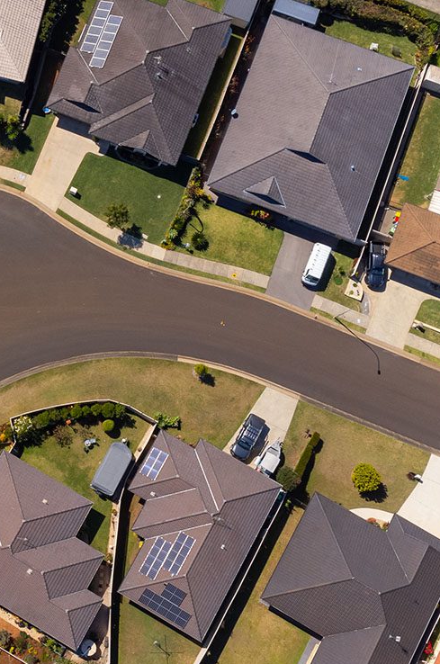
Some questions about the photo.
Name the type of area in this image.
residential area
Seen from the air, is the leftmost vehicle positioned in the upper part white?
Yes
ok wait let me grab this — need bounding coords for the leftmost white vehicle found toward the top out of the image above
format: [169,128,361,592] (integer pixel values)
[302,244,329,285]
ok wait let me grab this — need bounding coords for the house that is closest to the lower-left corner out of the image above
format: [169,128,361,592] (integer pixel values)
[0,450,106,650]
